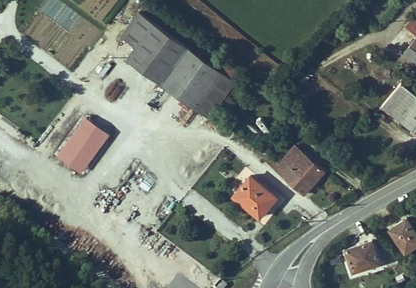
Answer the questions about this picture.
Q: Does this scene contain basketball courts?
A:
No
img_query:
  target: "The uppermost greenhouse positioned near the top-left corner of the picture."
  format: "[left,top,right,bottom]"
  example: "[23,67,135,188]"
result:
[40,0,81,33]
